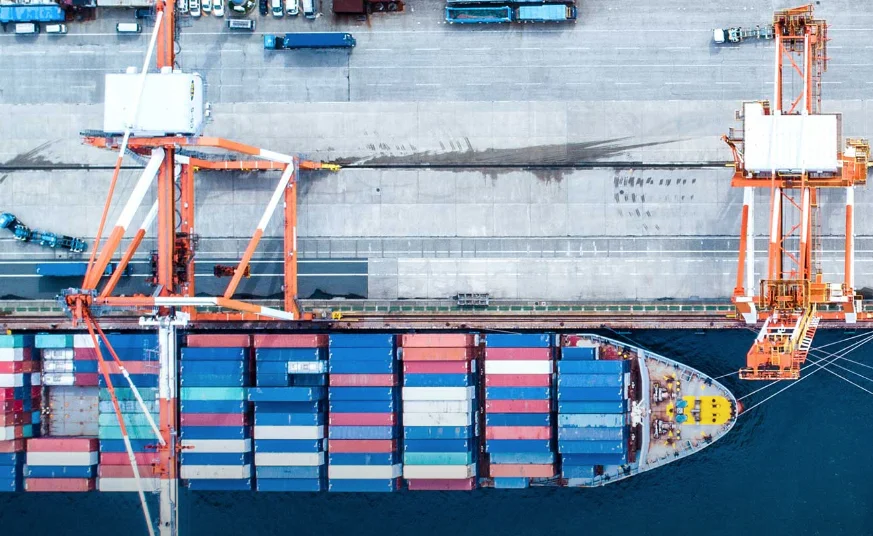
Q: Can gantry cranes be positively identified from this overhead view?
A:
Yes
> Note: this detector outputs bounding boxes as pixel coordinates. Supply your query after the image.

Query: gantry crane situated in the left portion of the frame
[61,0,341,536]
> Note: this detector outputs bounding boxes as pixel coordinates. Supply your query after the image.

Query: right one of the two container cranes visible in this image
[719,0,873,380]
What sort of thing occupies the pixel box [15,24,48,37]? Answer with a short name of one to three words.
vehicle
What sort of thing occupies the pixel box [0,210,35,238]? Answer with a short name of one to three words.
truck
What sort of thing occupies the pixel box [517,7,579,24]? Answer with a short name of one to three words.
trailer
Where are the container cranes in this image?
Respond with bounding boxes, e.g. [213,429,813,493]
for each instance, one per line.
[719,0,873,380]
[61,0,341,536]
